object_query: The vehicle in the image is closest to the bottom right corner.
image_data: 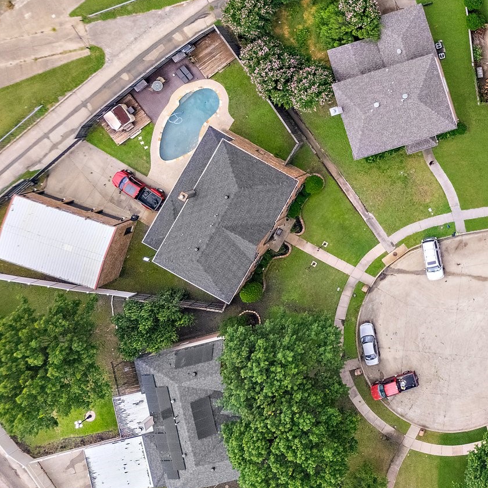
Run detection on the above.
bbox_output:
[369,371,421,401]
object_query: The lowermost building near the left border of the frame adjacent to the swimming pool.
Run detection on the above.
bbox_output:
[0,192,131,290]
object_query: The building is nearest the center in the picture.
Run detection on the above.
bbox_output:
[142,125,307,304]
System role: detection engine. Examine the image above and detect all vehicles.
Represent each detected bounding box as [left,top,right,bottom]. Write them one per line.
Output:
[110,168,166,215]
[422,237,445,280]
[360,322,382,366]
[369,371,421,401]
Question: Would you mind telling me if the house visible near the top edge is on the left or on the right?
right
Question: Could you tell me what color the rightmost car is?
white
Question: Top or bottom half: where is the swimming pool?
top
